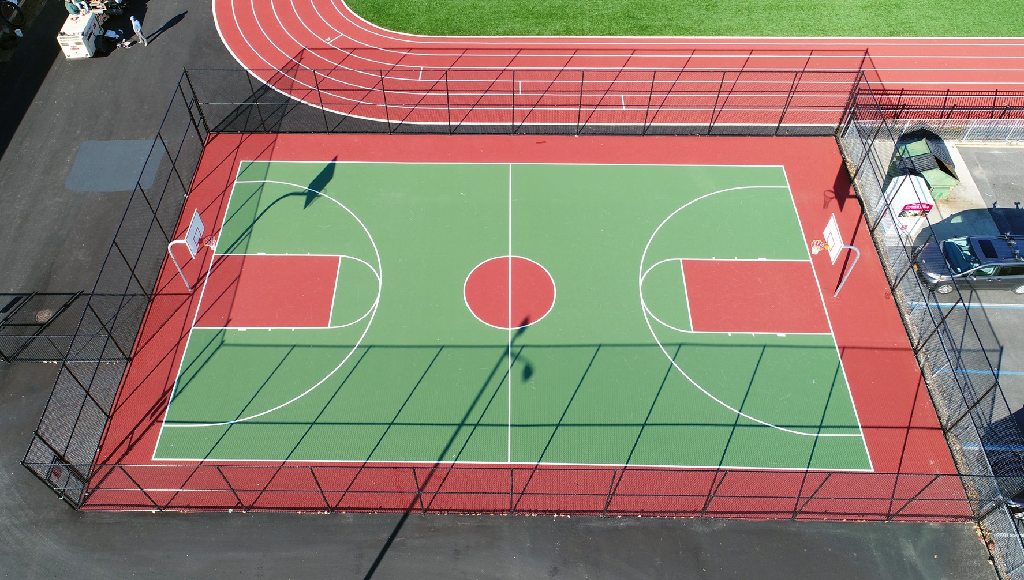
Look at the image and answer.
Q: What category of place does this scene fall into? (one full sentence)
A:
The area seen from above is a sports ground.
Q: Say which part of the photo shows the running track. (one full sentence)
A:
The running track is located in the top region of the scene.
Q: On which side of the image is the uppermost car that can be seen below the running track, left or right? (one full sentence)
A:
The uppermost car that can be seen below the running track sits on the right side.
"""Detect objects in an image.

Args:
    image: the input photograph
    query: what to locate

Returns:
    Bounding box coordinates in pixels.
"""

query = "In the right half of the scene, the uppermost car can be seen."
[912,234,1024,295]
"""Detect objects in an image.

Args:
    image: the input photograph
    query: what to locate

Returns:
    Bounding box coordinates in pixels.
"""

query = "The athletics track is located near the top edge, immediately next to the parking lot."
[211,0,1024,127]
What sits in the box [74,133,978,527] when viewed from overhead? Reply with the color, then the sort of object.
green basketball court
